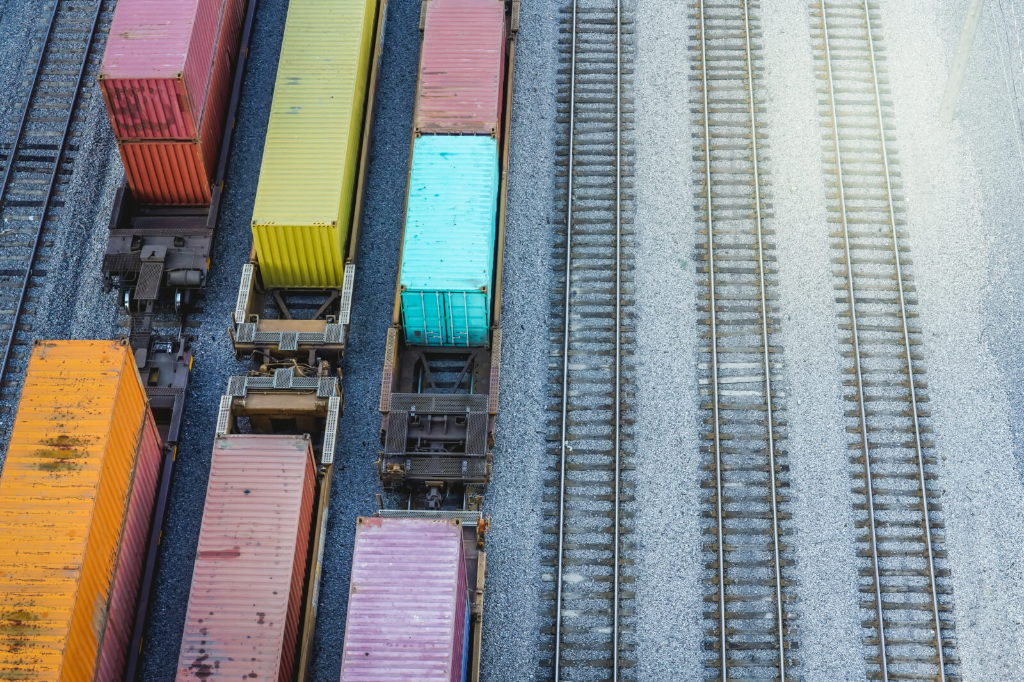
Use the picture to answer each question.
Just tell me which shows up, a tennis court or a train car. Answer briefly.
train car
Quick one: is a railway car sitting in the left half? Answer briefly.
Yes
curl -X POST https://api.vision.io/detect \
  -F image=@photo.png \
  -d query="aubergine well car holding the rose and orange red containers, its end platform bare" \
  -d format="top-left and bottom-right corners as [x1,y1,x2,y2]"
[98,0,263,330]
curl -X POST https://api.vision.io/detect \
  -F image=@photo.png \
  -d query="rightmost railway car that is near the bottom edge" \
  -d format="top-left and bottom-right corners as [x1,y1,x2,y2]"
[371,497,494,682]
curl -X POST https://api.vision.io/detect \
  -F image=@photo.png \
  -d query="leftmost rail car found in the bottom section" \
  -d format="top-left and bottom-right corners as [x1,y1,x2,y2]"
[122,314,195,682]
